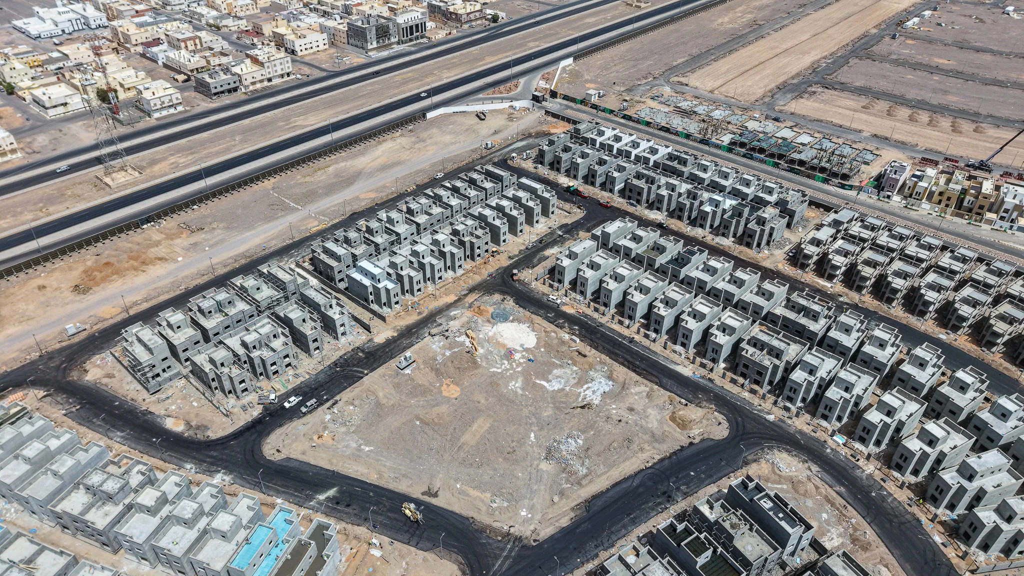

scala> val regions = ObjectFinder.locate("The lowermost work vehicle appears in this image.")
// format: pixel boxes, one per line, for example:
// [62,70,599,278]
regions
[400,497,423,523]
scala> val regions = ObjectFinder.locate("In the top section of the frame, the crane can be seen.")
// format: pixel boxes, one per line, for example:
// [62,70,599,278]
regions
[963,132,1024,173]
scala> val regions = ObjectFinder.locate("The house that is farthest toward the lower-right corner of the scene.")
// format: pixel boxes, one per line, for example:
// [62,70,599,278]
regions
[955,489,1024,557]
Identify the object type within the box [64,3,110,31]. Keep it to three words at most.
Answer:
building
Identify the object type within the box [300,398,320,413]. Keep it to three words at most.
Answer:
car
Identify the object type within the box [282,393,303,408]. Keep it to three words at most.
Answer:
vehicle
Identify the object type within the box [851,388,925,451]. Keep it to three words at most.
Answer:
house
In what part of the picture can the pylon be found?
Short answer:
top left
